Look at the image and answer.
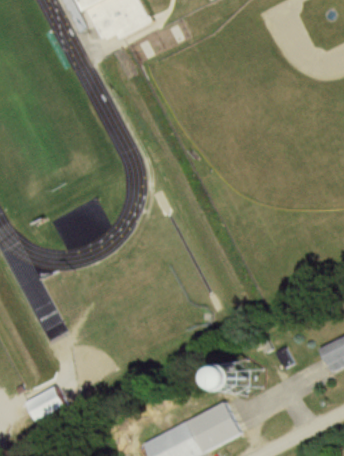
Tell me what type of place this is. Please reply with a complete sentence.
It's a sports ground.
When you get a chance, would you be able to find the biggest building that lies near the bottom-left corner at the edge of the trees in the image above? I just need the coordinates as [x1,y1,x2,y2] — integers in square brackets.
[26,386,62,421]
